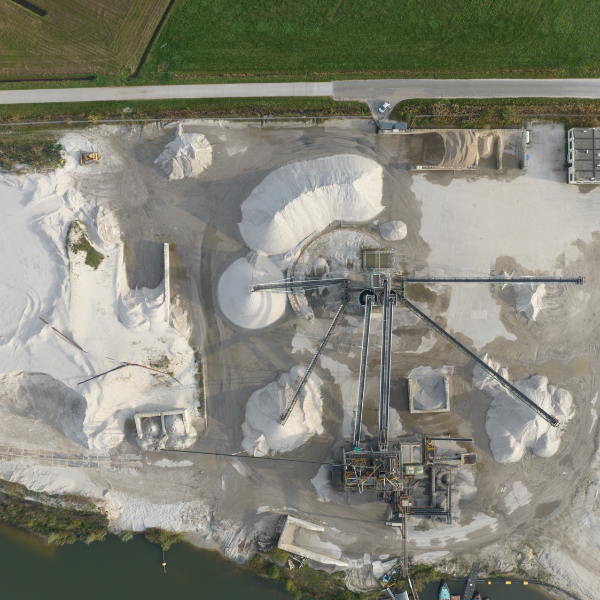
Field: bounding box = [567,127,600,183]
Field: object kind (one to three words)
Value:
building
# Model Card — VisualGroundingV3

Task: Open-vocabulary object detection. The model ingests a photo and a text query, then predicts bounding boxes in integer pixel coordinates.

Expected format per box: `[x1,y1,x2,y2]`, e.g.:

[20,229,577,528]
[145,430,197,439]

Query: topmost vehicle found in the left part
[83,151,101,165]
